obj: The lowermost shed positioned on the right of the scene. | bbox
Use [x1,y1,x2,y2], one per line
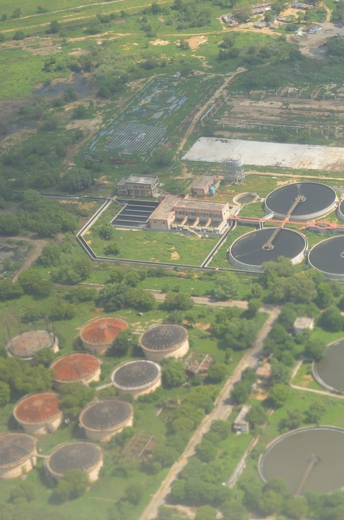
[235,406,257,432]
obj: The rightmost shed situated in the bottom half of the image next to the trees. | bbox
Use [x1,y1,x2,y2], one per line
[294,317,316,335]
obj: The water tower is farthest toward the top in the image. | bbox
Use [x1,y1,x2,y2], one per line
[220,153,245,187]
